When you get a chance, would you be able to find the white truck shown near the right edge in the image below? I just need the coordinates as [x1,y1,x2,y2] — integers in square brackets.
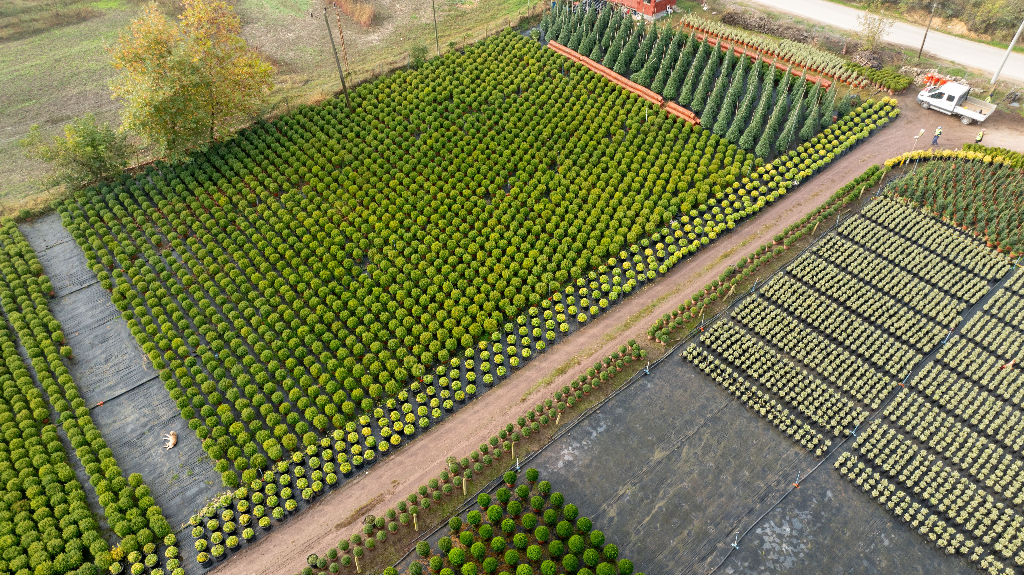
[915,85,1001,125]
